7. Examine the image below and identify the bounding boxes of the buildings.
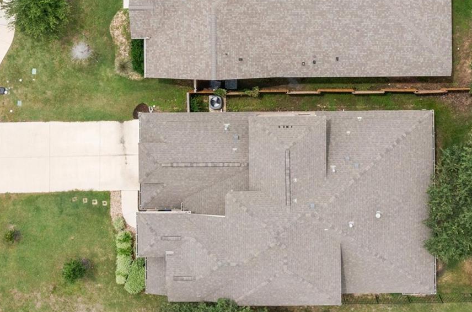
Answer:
[135,109,438,306]
[130,0,452,79]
